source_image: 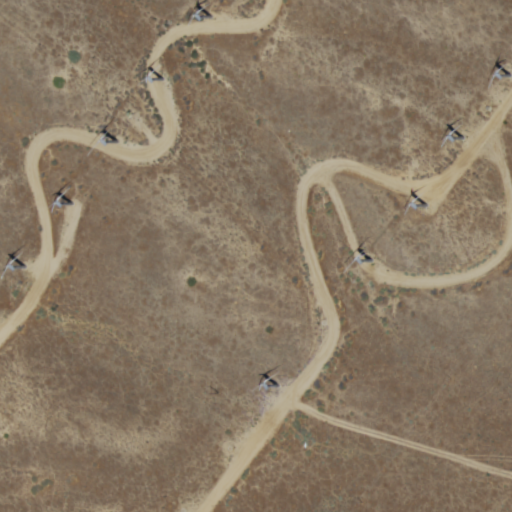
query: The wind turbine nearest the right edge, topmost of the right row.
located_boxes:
[490,57,512,84]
